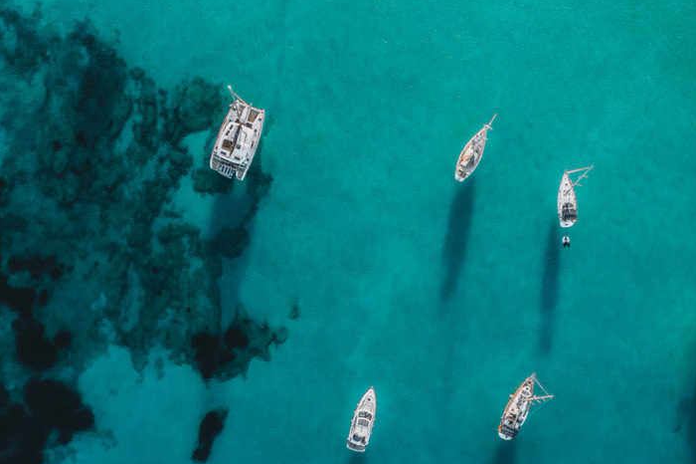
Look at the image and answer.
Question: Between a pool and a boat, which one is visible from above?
boat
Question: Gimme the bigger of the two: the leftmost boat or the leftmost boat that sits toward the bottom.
the leftmost boat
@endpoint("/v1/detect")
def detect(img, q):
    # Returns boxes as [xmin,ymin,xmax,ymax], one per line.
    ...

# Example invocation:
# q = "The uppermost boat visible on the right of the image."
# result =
[456,116,496,183]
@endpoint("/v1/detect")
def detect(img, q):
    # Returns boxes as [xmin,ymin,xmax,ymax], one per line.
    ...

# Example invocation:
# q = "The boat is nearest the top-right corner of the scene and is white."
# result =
[555,163,597,228]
